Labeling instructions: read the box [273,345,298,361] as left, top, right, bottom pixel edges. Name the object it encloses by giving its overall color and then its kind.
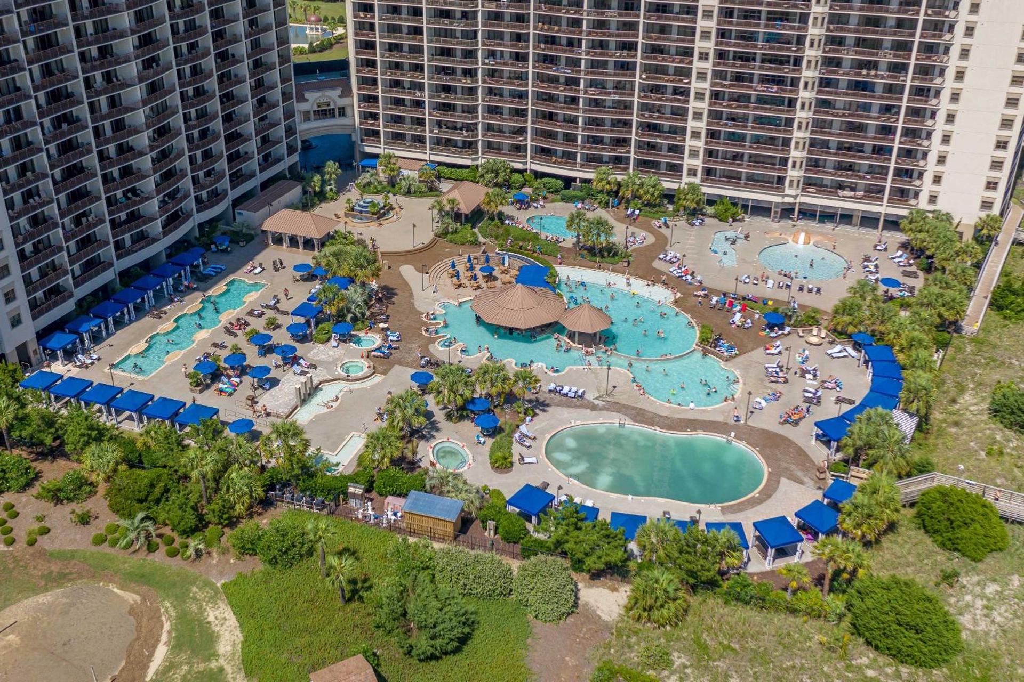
blue umbrella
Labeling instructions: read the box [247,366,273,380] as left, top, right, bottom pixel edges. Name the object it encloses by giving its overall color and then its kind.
blue umbrella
